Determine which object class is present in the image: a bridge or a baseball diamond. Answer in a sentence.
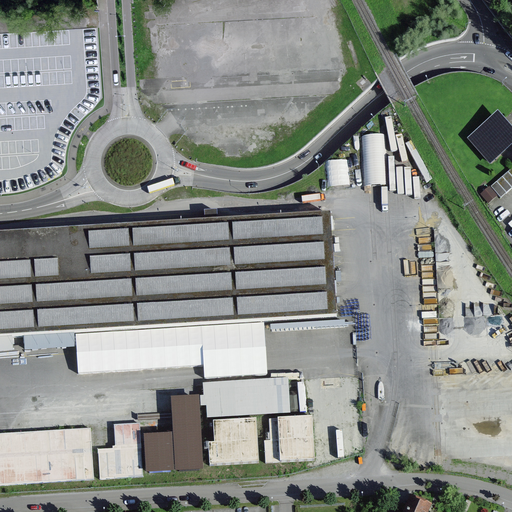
Looking from above, you can make out a bridge.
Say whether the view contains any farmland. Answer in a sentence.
No, there is no farmland in the image.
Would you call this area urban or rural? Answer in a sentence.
It looks urban.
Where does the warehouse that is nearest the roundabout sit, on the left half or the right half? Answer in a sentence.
The warehouse that is nearest the roundabout sits on the left side.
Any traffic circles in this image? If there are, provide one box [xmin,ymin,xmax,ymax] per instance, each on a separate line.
[84,116,173,206]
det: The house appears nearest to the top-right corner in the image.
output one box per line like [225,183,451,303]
[466,108,512,164]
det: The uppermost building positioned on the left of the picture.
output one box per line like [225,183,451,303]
[0,208,337,336]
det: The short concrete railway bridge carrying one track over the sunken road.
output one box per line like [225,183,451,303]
[374,56,418,118]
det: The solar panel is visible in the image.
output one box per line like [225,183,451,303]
[468,110,512,162]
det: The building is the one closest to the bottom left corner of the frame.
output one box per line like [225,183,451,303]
[0,428,94,485]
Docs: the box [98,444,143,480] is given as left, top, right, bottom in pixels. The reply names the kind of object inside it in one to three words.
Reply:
building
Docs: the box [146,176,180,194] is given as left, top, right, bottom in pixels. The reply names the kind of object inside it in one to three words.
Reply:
vehicle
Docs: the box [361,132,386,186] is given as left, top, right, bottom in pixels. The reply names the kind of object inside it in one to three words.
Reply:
building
